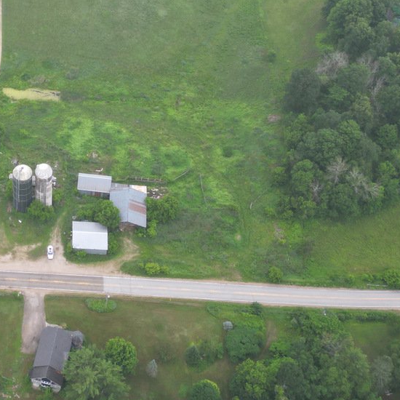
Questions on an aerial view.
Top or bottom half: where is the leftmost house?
bottom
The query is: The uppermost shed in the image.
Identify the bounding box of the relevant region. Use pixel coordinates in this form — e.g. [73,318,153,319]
[77,173,111,197]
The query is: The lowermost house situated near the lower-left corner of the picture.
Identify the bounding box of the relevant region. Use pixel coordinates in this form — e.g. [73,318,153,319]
[31,325,73,391]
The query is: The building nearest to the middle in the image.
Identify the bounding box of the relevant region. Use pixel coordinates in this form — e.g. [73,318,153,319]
[110,184,147,233]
